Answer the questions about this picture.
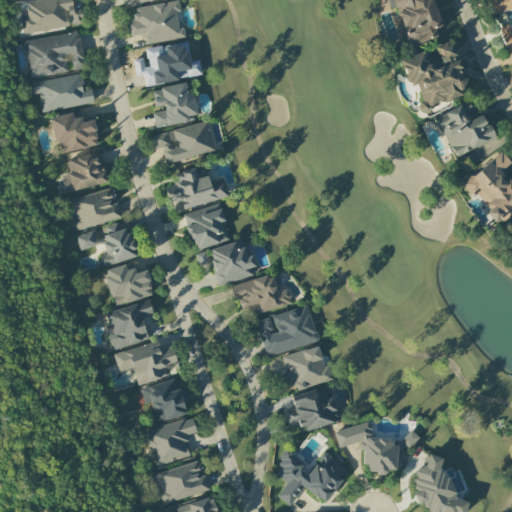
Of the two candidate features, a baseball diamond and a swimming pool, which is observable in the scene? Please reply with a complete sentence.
The image shows a swimming pool.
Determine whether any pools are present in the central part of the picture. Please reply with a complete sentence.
Yes, in the central part of the picture there is a pool.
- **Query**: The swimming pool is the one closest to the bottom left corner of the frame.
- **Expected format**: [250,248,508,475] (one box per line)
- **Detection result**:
[112,370,136,390]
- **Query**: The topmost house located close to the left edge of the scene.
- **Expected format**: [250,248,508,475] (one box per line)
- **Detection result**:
[20,0,76,36]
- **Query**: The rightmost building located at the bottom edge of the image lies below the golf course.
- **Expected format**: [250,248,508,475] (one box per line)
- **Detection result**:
[414,452,471,512]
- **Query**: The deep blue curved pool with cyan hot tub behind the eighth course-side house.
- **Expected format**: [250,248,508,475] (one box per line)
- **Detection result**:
[247,244,270,270]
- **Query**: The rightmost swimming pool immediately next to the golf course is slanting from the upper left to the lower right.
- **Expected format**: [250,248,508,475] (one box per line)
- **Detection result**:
[466,198,495,224]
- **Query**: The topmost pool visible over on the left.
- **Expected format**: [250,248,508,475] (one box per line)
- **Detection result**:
[183,6,198,30]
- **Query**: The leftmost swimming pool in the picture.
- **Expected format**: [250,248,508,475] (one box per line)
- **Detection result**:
[16,45,31,76]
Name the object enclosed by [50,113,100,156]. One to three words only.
house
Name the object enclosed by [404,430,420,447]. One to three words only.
gazebo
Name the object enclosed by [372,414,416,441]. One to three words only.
swimming pool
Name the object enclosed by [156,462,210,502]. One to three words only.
house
